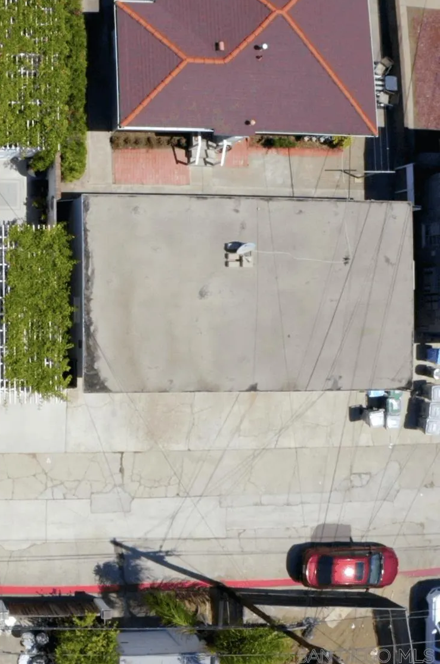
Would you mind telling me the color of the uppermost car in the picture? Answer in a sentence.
In this view, the uppermost car is red.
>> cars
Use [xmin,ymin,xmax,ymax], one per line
[417,585,440,664]
[296,543,398,595]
